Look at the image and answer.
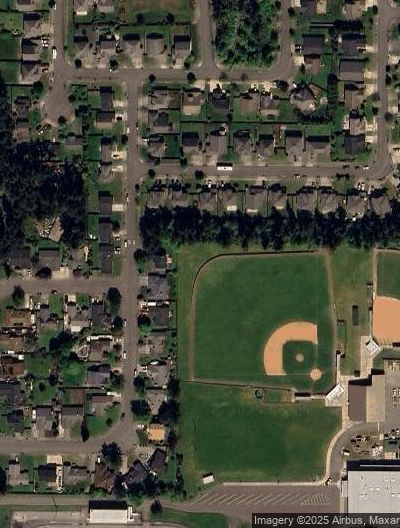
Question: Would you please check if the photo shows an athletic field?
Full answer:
Yes, the image includes an athletic field.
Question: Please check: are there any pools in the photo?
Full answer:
No, no pool is visible in the view.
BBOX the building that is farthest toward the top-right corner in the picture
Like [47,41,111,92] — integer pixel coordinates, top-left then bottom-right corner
[343,1,369,20]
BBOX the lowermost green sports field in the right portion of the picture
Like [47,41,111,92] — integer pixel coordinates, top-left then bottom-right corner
[176,384,342,500]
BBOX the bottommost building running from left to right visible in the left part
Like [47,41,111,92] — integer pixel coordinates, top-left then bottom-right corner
[90,508,129,524]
